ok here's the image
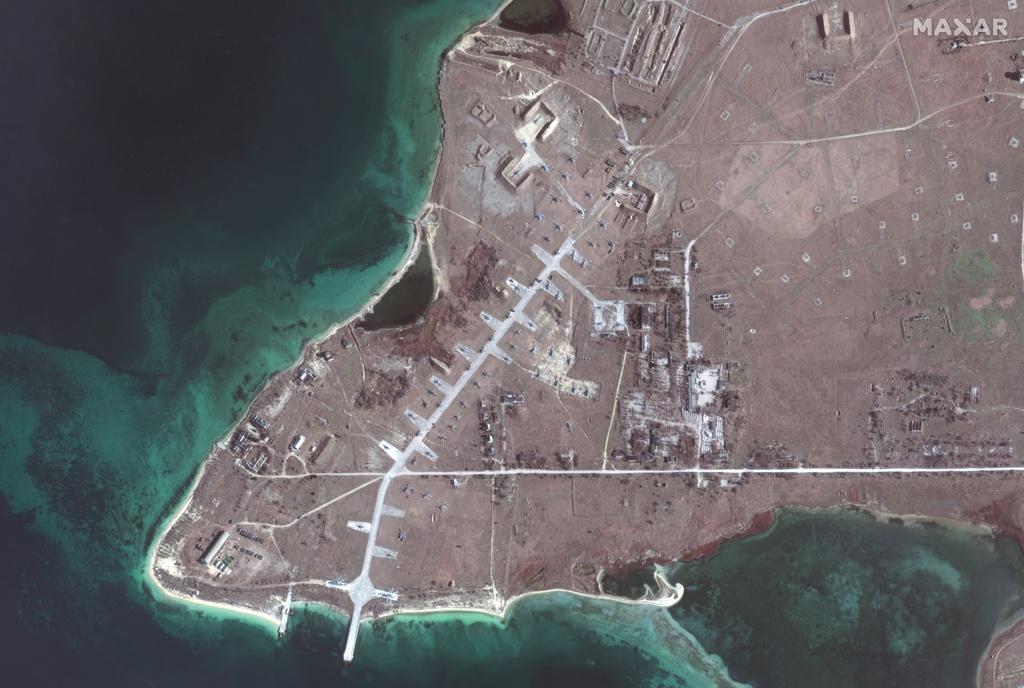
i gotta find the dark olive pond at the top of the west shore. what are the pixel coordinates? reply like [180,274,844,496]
[496,0,569,34]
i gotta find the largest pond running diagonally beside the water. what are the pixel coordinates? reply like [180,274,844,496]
[357,242,436,330]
